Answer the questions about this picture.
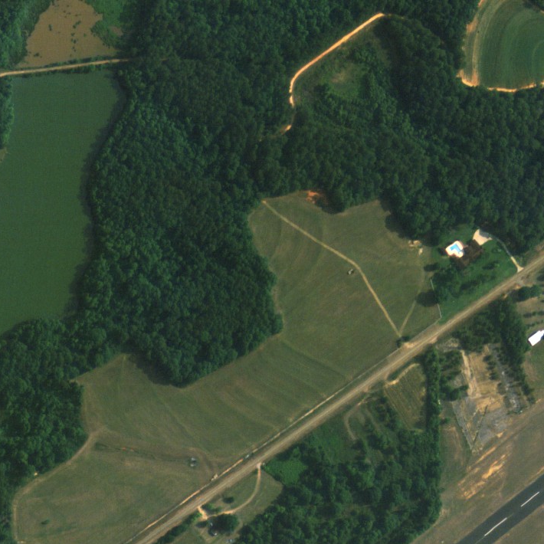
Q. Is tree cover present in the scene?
Yes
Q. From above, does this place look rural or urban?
rural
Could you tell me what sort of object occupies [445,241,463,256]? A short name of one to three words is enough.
swimming pool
